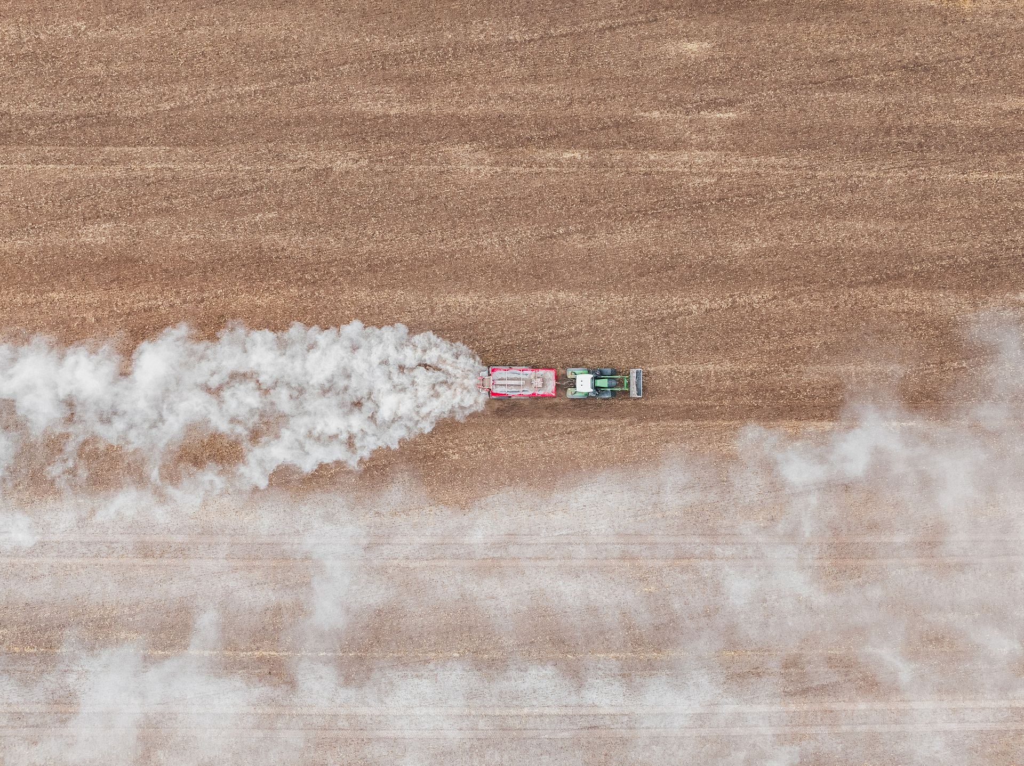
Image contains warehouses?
No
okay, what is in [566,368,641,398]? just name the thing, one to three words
work vehicle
